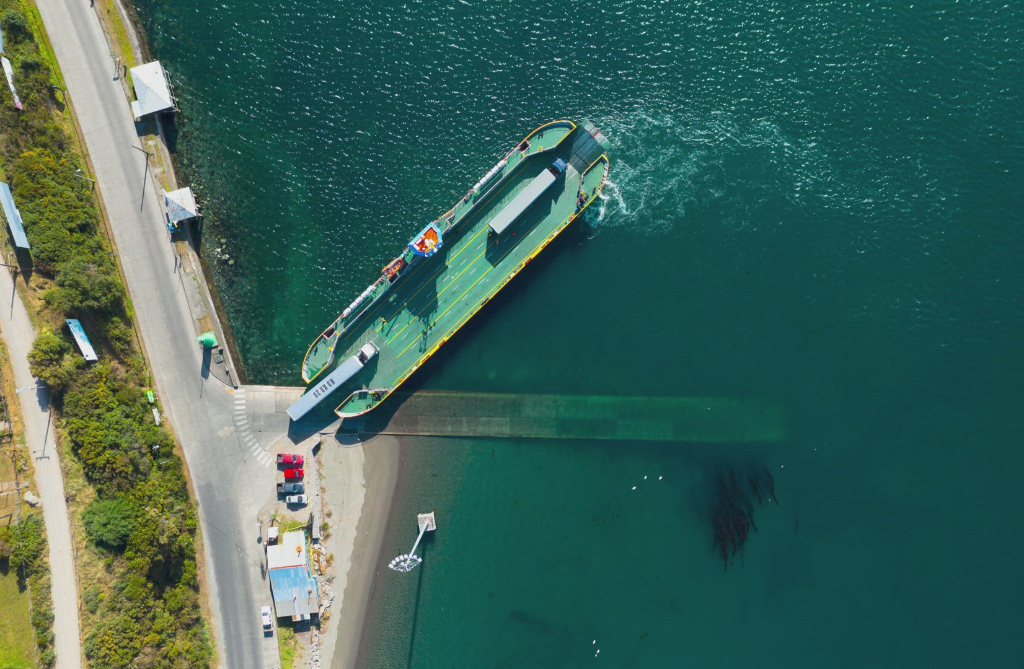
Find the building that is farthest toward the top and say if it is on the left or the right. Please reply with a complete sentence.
The building that is farthest toward the top sits on the left side.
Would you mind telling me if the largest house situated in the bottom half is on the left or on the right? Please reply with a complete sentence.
The largest house situated in the bottom half appears in the left half of the scene.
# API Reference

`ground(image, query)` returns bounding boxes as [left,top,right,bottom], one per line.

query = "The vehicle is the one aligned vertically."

[261,608,273,635]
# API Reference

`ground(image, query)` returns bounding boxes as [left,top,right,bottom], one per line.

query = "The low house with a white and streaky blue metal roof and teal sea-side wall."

[268,528,322,621]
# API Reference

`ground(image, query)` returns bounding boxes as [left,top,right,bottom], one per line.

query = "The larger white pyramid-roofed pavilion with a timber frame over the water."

[129,60,189,120]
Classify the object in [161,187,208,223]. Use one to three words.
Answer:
building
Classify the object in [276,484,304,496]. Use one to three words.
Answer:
vehicle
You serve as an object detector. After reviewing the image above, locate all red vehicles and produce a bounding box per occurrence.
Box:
[284,470,304,481]
[276,456,303,467]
